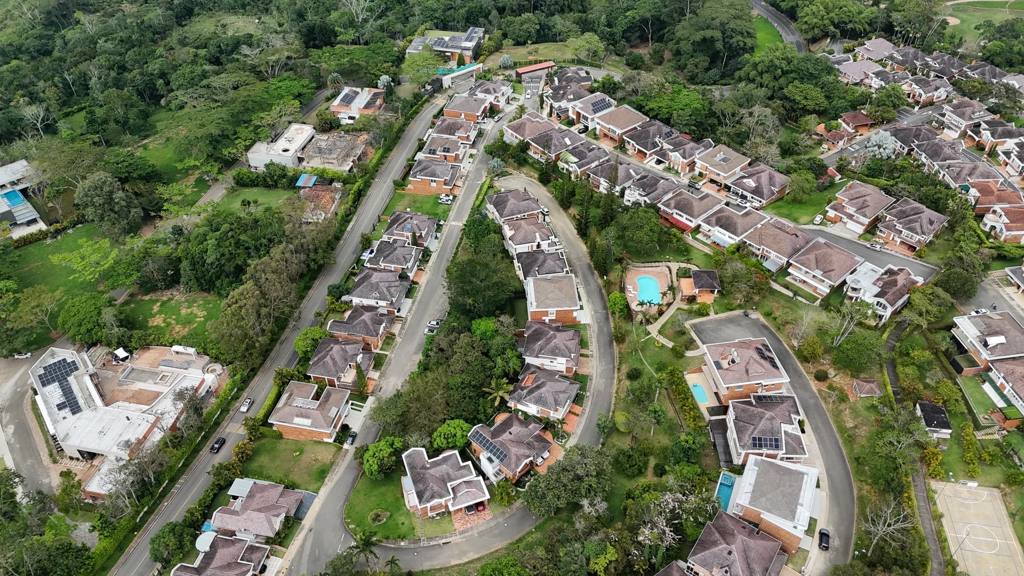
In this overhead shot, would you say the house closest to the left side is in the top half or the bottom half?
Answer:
bottom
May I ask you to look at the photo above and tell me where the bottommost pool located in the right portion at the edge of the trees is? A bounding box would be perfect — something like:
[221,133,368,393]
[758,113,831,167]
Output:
[713,471,738,514]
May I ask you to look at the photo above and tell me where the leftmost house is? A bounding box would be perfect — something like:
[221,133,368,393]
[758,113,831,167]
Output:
[28,345,221,503]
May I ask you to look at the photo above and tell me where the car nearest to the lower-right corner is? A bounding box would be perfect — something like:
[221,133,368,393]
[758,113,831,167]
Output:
[819,528,831,551]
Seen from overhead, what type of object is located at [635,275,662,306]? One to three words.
swimming pool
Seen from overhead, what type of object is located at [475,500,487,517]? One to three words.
vehicle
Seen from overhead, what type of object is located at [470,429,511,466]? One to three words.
solar array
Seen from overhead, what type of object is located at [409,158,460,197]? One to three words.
house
